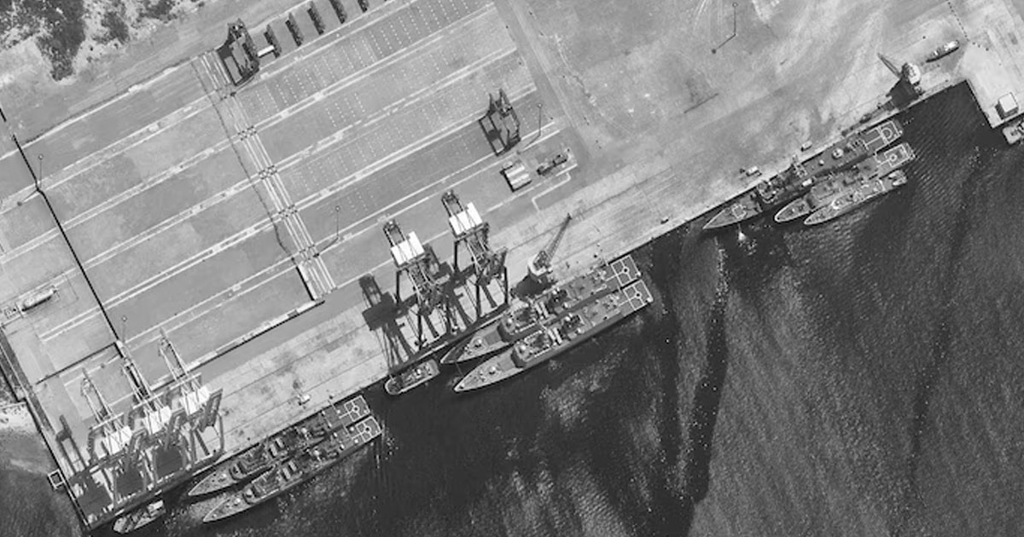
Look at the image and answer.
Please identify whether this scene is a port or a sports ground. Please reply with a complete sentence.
What you see here is a port.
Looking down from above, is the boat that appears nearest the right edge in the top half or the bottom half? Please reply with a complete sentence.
It is in the top half that the boat that appears nearest the right edge appears.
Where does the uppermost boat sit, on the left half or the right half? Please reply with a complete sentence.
The uppermost boat sits on the right side.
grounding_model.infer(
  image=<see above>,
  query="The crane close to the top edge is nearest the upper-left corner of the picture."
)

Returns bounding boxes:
[226,10,262,78]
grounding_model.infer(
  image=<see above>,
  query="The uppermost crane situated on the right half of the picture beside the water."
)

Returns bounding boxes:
[884,50,931,101]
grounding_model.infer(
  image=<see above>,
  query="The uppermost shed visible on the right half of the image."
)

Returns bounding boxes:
[998,92,1018,118]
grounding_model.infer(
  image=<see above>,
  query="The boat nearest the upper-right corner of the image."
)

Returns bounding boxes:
[927,40,961,60]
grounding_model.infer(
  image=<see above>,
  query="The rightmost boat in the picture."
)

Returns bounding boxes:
[1004,118,1024,144]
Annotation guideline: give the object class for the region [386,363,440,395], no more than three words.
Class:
boat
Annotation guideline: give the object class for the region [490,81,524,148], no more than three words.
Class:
crane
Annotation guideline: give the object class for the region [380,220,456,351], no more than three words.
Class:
container crane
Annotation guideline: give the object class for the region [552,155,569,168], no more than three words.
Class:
vehicle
